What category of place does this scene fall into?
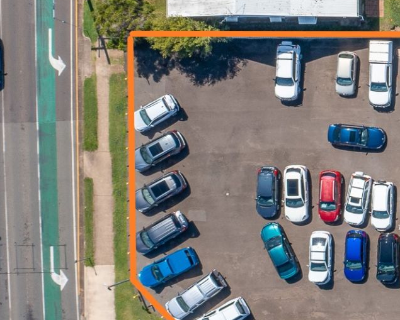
parking lot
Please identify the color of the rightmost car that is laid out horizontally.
blue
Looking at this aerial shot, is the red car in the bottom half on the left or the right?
right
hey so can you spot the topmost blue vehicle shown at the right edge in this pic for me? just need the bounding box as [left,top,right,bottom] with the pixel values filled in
[328,124,388,151]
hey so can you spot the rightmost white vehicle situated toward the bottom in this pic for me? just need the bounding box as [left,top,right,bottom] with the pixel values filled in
[367,178,395,231]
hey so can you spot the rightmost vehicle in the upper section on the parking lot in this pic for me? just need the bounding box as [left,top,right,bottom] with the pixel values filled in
[366,40,394,109]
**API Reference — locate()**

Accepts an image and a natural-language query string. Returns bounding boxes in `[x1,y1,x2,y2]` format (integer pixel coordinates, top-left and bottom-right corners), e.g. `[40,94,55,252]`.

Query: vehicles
[133,93,183,131]
[374,234,400,285]
[333,51,360,96]
[137,171,189,208]
[315,171,342,223]
[306,231,334,285]
[341,231,368,282]
[264,222,300,281]
[136,211,191,255]
[367,178,395,231]
[139,247,201,289]
[366,40,394,109]
[341,170,373,227]
[282,165,310,223]
[253,166,282,218]
[328,124,388,151]
[168,270,228,320]
[135,130,189,166]
[273,41,302,102]
[199,296,251,320]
